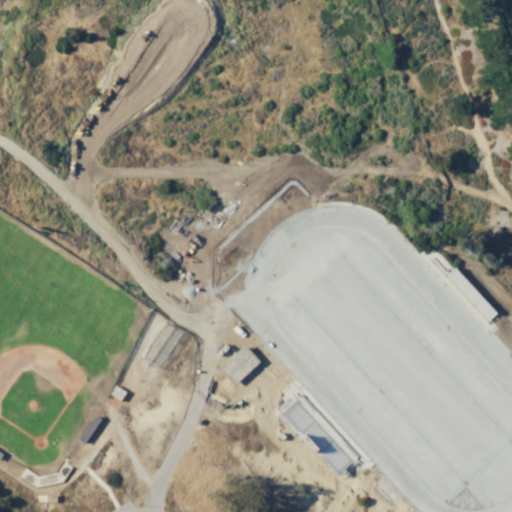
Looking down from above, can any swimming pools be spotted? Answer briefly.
No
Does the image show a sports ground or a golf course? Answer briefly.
sports ground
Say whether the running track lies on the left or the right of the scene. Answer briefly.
right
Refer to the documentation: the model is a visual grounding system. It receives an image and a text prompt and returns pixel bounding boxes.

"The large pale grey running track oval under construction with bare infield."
[226,196,512,512]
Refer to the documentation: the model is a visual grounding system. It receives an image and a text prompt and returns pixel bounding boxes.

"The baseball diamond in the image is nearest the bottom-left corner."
[0,216,134,468]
